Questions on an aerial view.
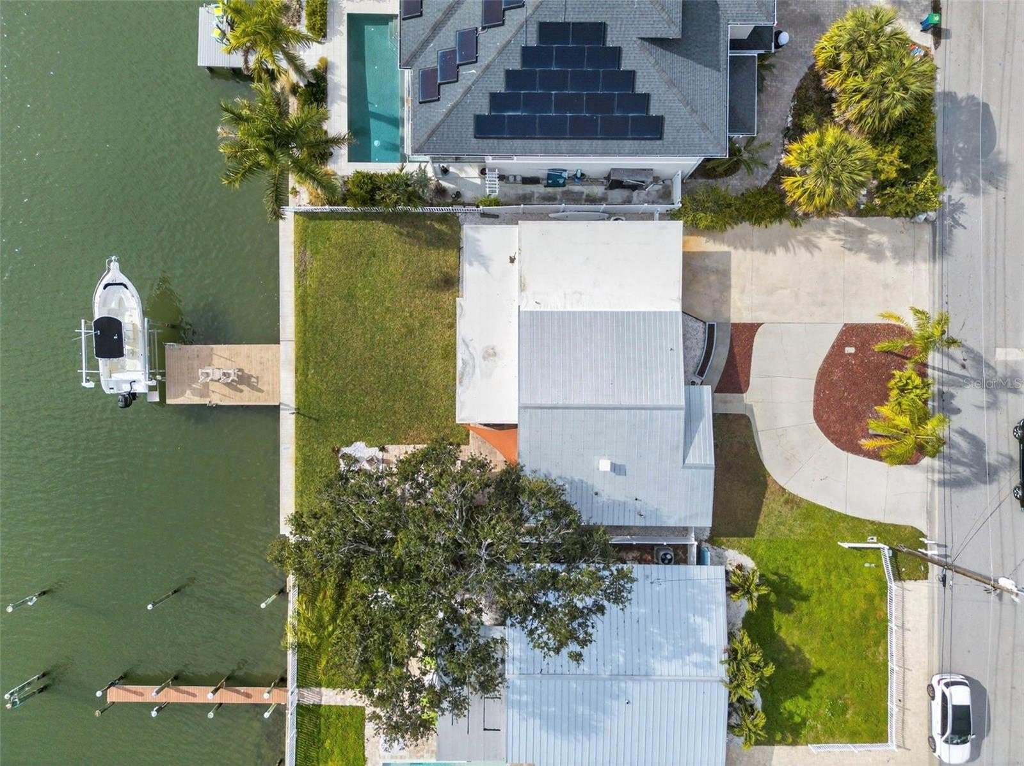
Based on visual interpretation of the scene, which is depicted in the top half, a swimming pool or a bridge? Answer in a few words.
swimming pool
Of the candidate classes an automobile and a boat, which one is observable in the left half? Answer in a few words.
boat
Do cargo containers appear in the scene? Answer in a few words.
No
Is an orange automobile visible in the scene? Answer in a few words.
No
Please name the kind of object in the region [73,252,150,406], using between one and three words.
boat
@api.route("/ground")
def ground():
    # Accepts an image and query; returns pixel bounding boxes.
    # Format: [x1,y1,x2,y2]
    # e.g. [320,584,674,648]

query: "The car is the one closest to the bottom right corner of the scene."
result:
[928,674,976,762]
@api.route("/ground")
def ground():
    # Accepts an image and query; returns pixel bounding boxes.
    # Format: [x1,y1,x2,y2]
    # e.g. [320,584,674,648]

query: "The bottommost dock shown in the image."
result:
[107,680,287,703]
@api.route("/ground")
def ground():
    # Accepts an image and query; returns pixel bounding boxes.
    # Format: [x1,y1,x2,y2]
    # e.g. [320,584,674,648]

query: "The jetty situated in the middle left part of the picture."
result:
[165,344,281,408]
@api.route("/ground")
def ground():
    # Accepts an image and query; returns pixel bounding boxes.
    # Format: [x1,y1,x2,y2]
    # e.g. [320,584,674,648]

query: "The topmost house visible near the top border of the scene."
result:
[397,0,779,182]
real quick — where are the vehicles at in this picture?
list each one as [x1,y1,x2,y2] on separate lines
[928,674,976,762]
[1013,419,1024,514]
